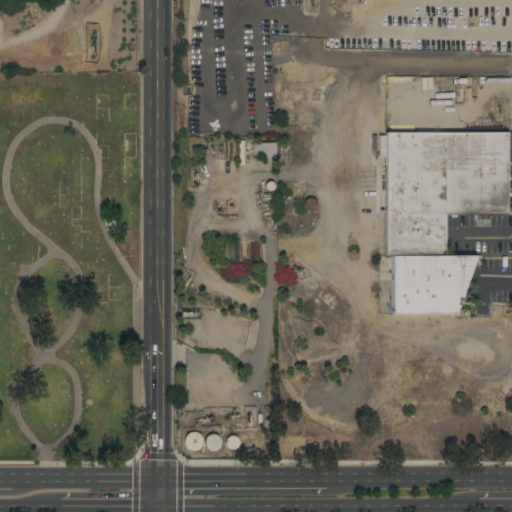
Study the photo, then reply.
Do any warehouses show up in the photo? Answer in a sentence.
Yes, a warehouse can be made out from above.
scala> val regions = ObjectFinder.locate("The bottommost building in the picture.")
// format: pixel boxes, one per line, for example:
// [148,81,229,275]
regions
[391,256,480,314]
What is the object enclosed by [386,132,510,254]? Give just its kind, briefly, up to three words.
warehouse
